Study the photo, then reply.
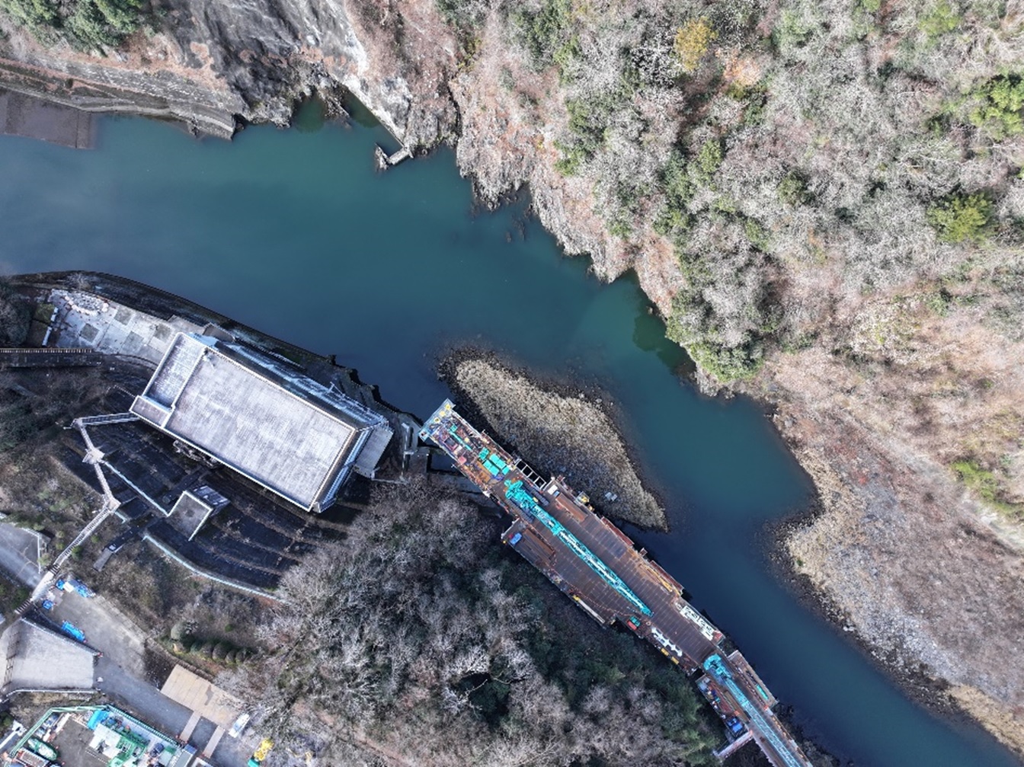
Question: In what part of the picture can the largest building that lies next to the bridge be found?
left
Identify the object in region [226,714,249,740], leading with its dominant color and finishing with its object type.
white vehicle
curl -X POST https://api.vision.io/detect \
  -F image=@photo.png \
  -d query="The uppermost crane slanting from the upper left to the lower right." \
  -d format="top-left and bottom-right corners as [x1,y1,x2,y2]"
[500,472,653,616]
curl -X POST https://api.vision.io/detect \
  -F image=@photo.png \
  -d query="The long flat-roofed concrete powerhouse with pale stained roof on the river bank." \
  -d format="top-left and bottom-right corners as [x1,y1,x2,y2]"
[130,325,390,511]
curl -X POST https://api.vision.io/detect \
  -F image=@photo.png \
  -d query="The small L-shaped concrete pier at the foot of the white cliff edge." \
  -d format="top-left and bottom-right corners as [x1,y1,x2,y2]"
[374,144,413,172]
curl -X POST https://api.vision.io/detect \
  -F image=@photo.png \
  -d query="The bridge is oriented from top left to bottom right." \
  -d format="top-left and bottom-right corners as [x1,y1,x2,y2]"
[431,411,817,767]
